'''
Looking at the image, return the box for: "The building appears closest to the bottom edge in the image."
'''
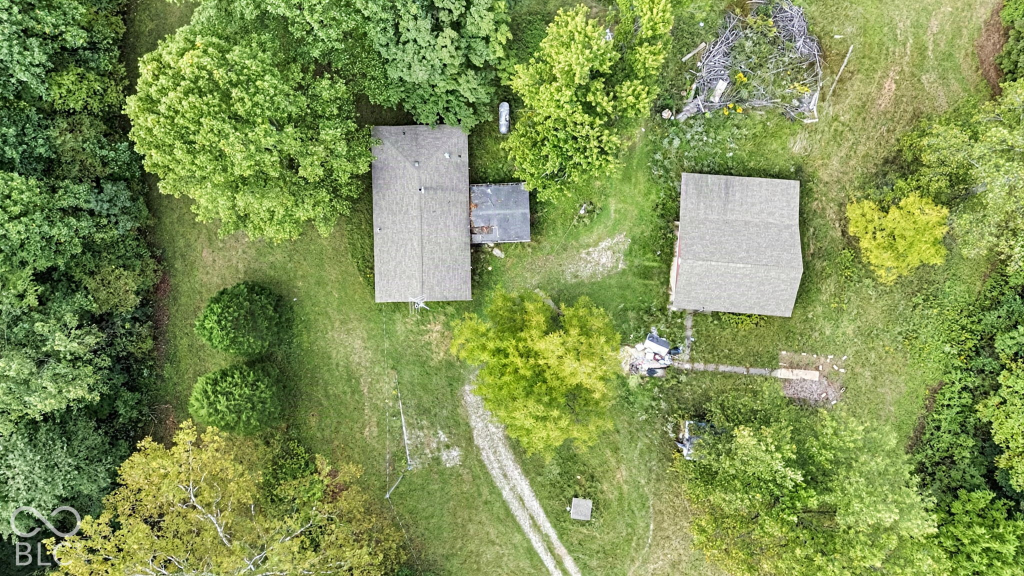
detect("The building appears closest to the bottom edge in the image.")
[570,496,592,520]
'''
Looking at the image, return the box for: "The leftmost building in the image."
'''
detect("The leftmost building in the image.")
[371,125,473,303]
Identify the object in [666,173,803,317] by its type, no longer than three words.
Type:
building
